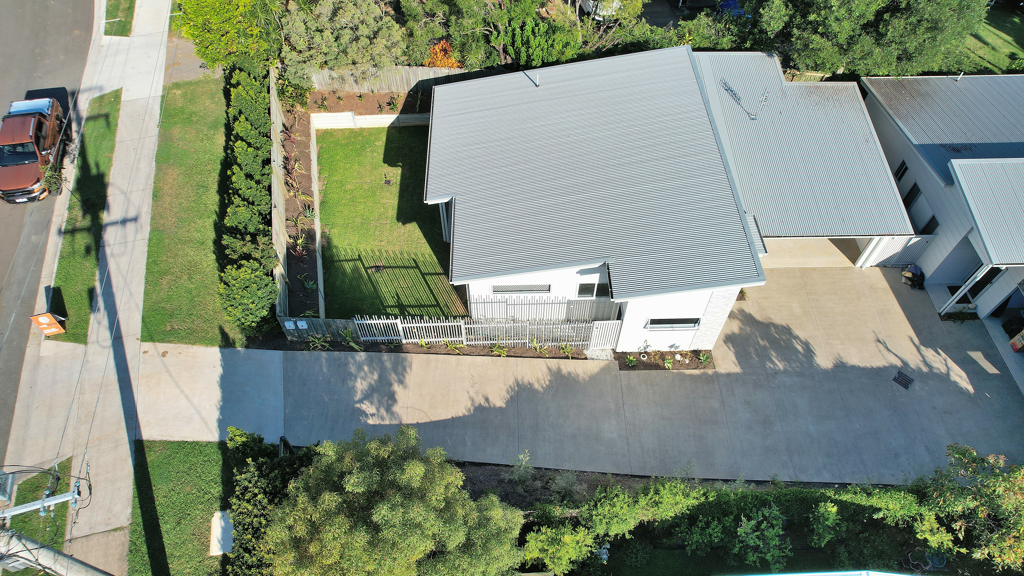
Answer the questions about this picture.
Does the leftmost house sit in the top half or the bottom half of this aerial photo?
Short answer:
top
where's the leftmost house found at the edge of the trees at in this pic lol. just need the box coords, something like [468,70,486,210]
[425,43,914,353]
